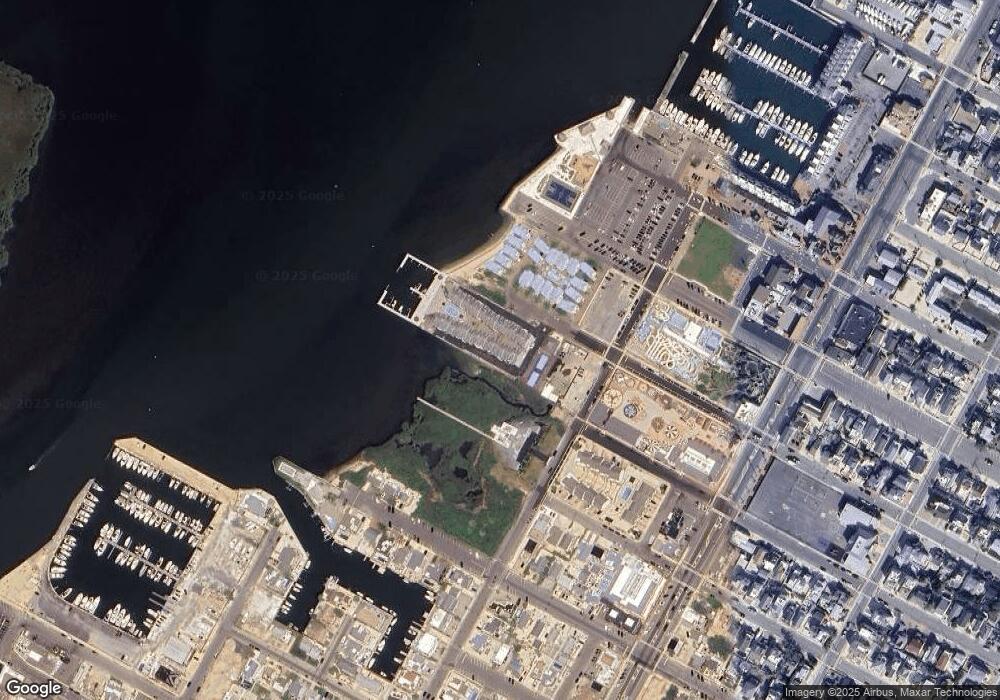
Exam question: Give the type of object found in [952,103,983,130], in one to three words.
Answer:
house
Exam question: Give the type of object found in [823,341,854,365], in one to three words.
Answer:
house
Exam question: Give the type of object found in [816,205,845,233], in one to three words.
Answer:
building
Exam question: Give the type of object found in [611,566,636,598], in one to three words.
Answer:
building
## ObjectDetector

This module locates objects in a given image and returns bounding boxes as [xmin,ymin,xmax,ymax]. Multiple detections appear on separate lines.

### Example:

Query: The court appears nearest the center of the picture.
[539,173,582,211]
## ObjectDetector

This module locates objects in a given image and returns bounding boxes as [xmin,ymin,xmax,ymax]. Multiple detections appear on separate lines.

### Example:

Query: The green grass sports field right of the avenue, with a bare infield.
[668,213,760,304]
